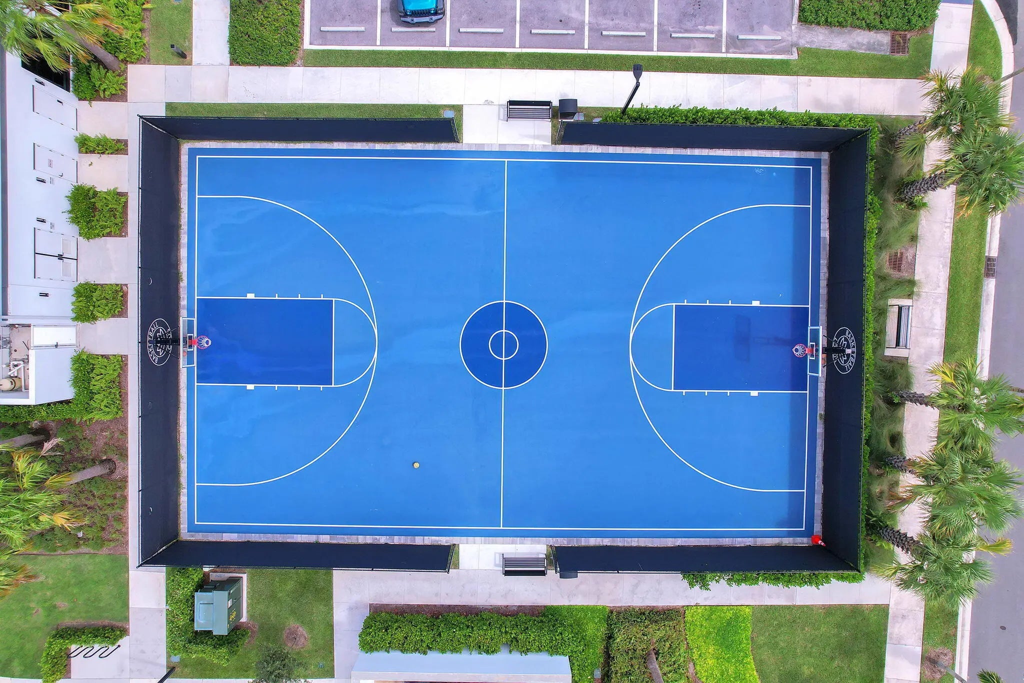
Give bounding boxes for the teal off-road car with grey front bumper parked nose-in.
[398,0,446,26]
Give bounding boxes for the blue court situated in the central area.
[181,142,828,545]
